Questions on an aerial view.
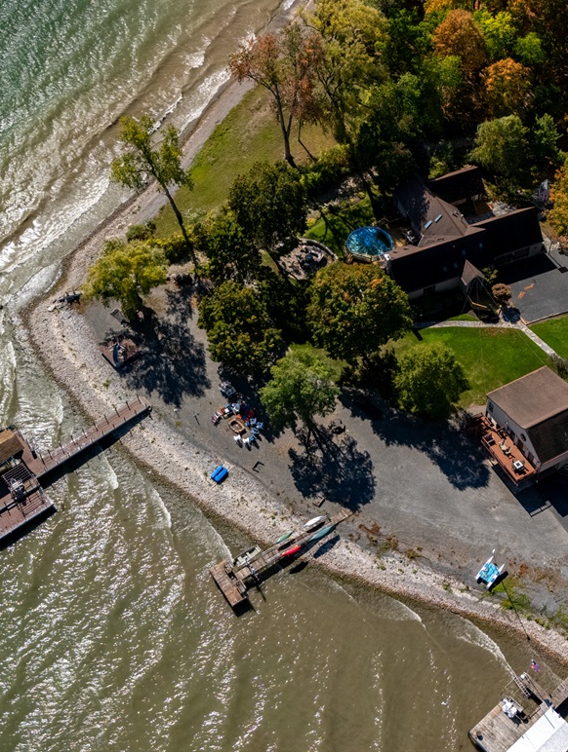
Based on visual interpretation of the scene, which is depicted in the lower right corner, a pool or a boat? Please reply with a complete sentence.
The one visible in the lower right corner is a boat.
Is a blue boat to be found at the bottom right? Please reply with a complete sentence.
Yes, a blue boat appears at the bottom right.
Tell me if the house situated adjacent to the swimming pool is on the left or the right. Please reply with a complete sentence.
The house situated adjacent to the swimming pool is on the right side of the image.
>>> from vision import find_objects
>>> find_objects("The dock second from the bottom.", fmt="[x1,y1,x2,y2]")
[210,507,353,610]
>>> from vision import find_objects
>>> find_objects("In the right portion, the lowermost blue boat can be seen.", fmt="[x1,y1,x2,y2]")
[477,544,504,587]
